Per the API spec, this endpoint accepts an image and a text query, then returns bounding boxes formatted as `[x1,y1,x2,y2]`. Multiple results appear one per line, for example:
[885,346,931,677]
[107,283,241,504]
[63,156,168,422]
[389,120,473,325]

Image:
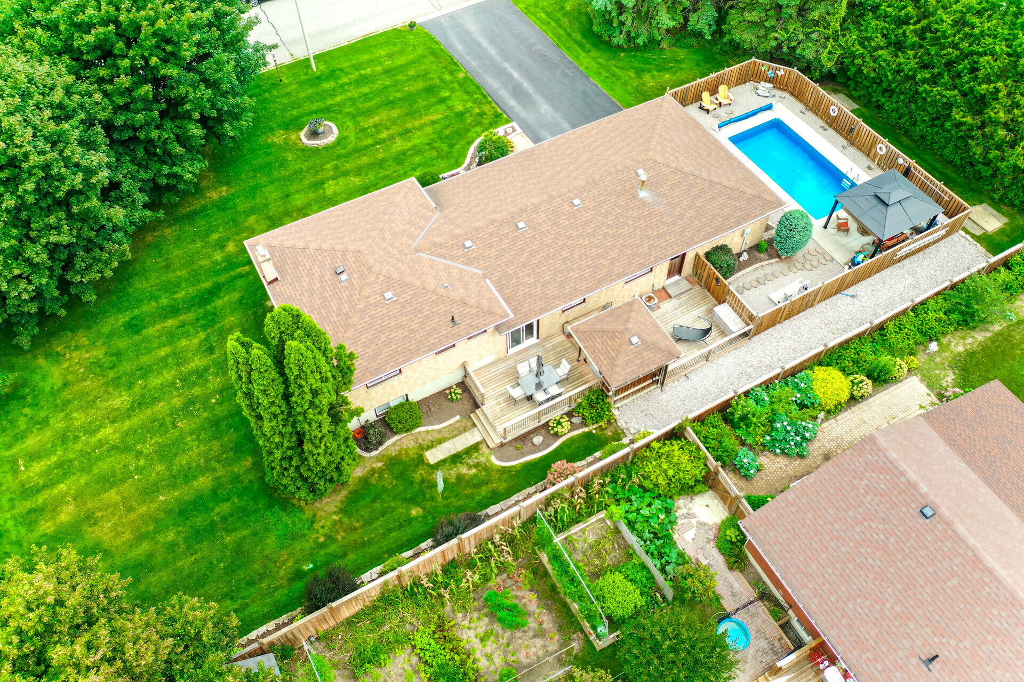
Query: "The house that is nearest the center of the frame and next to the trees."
[242,95,786,421]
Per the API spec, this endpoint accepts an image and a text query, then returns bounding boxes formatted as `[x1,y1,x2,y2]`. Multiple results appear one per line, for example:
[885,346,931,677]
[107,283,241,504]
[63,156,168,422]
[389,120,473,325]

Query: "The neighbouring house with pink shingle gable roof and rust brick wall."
[736,385,1024,682]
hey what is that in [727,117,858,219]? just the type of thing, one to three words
swimming pool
